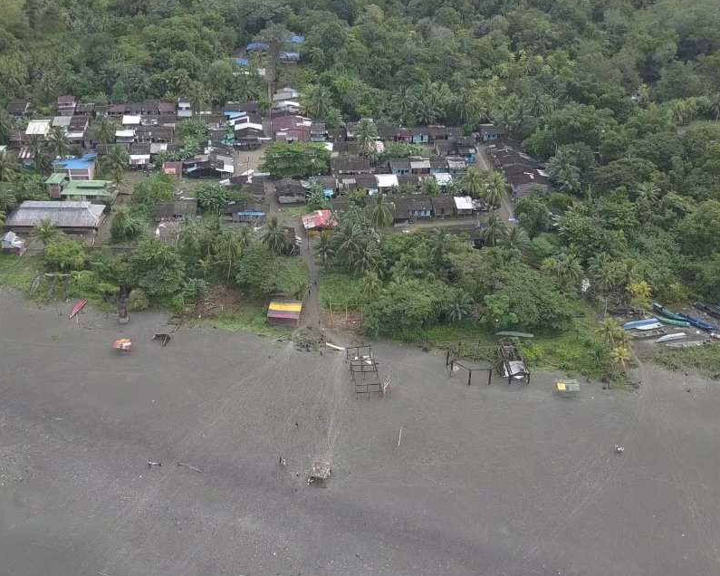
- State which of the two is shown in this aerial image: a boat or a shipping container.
boat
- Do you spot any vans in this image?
No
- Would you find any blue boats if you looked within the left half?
No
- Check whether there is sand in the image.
Yes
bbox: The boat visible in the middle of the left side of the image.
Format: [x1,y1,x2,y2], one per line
[70,299,88,319]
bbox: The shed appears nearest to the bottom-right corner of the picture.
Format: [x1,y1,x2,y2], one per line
[498,341,530,386]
